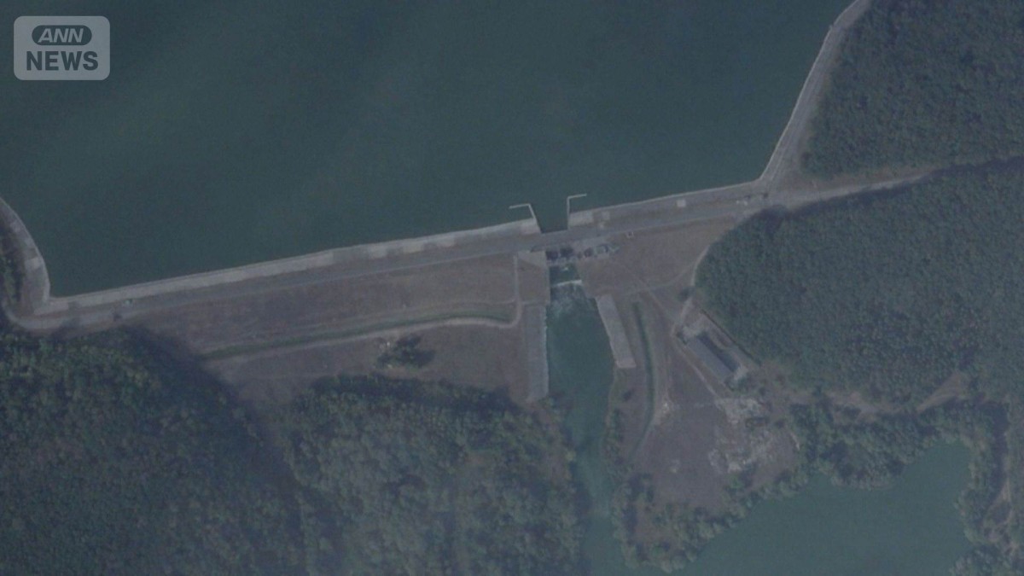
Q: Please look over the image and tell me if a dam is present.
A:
Yes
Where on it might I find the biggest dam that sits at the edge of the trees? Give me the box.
[30,178,774,355]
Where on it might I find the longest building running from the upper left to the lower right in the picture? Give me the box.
[688,337,733,382]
